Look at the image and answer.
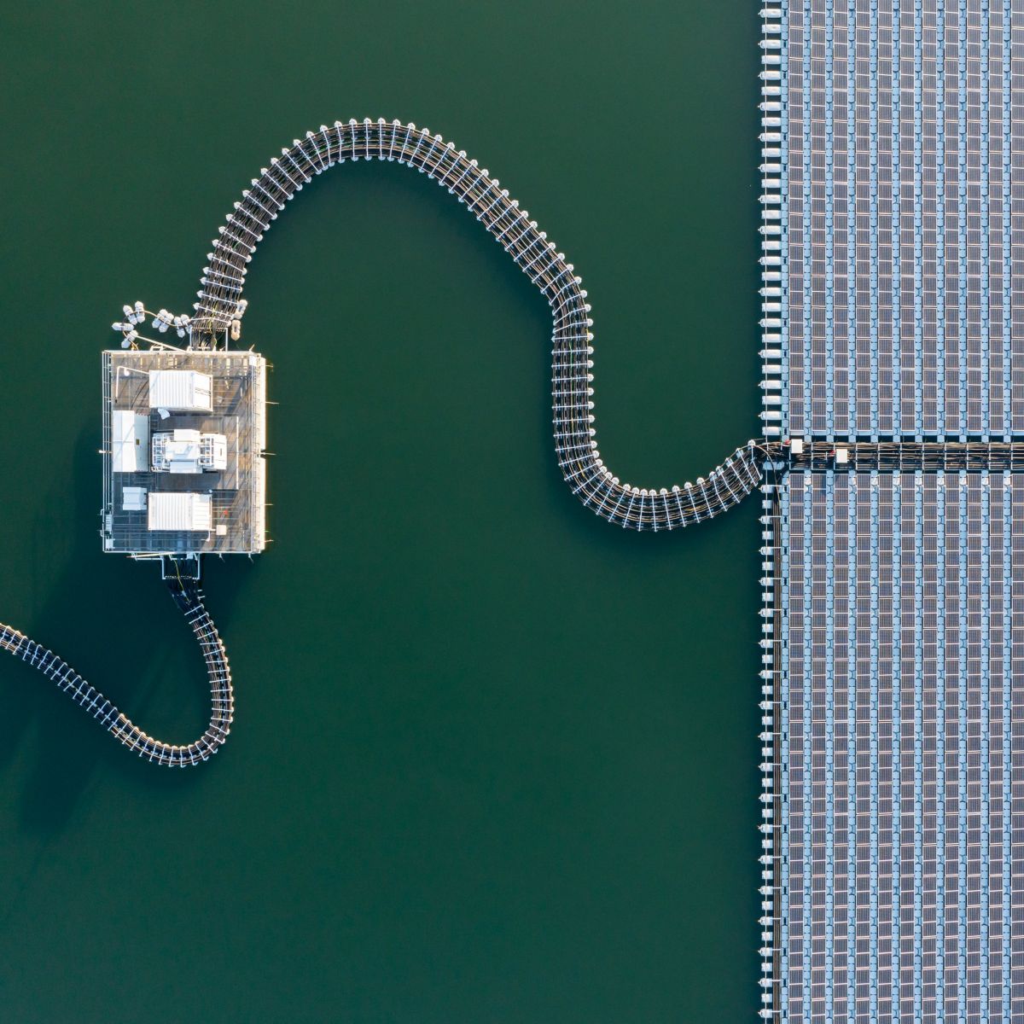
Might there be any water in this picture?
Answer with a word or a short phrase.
Yes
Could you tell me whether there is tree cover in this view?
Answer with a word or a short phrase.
No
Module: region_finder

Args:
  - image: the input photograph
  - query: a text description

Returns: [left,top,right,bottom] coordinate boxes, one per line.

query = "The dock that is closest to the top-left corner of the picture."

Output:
[255,356,267,451]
